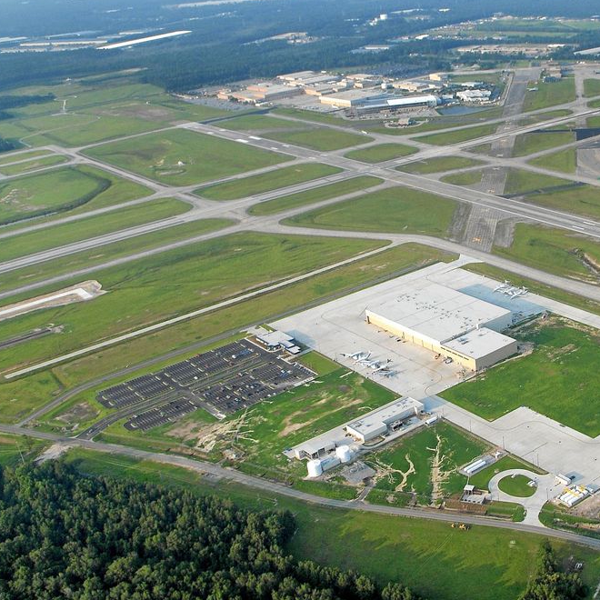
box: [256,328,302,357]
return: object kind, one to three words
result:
building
